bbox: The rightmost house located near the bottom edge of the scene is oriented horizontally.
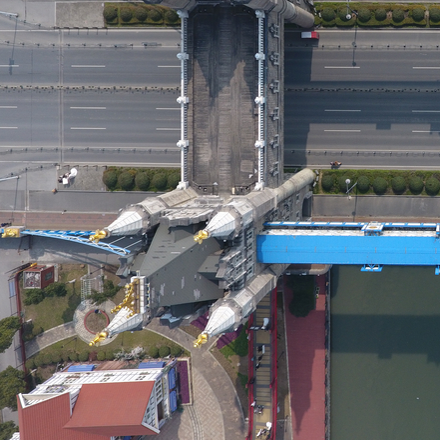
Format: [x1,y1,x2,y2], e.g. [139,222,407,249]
[14,357,174,440]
